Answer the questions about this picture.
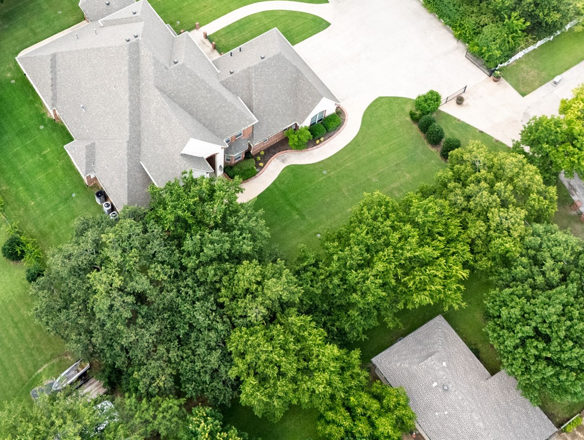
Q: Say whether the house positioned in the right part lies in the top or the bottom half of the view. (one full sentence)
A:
You can find the house positioned in the right part in the bottom half.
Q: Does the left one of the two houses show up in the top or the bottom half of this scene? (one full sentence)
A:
Seen from above, the left one of the two houses lies in the top half of the view.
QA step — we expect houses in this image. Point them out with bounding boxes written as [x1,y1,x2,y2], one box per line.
[369,314,560,440]
[14,0,342,235]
